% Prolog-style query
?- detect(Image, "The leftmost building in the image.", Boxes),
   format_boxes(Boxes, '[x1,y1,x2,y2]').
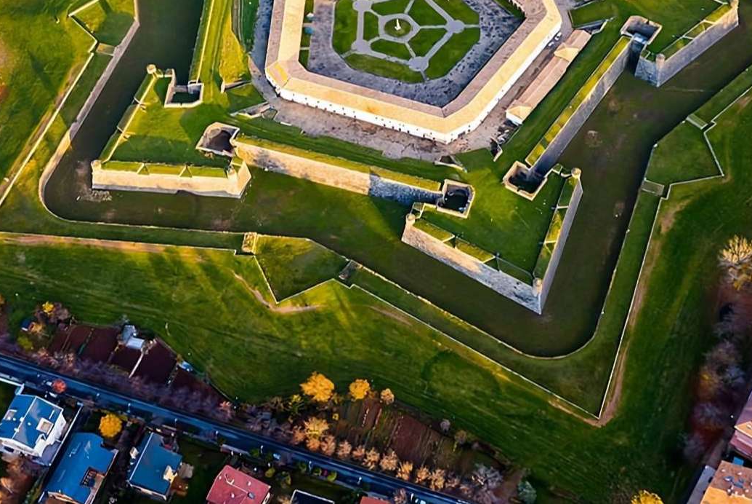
[0,391,67,460]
